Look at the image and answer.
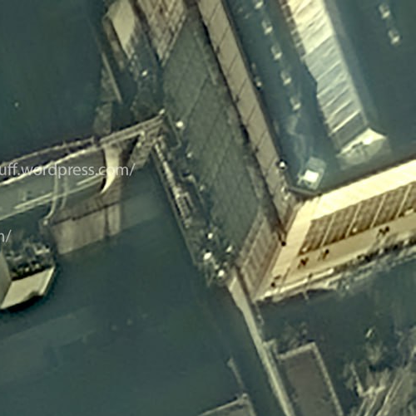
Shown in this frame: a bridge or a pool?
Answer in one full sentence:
Of the two, only a bridge appears.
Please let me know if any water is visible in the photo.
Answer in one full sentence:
Yes, the picture does contain water.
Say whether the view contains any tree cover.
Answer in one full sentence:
No, the scene doesn't show any tree cover.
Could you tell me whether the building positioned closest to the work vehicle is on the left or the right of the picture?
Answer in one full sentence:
The building positioned closest to the work vehicle sits on the right side.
